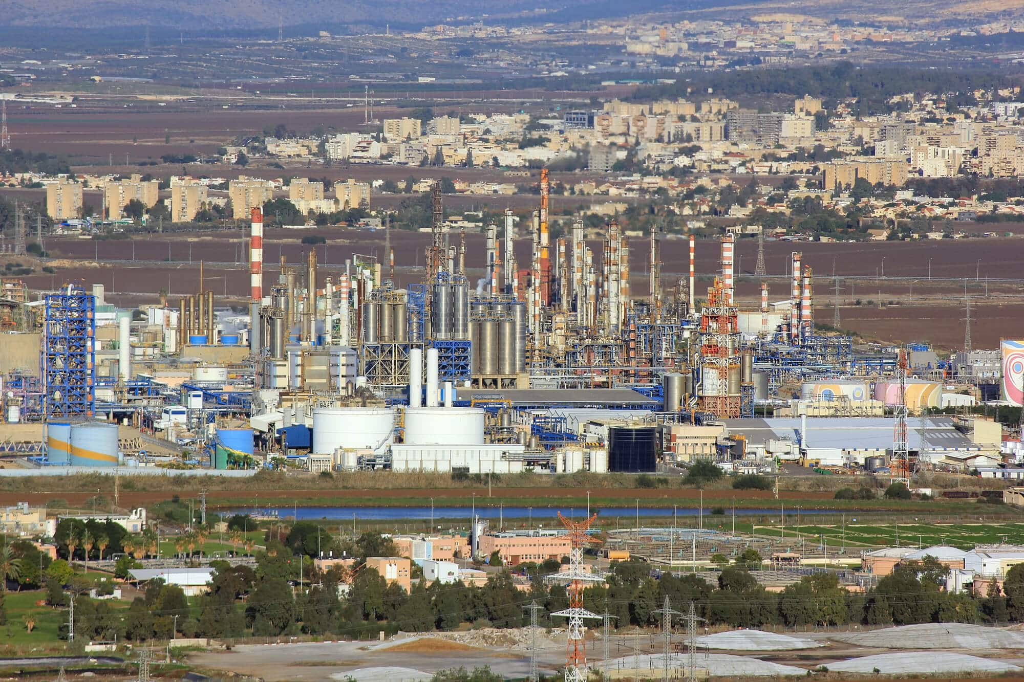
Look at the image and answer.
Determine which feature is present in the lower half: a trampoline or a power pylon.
power pylon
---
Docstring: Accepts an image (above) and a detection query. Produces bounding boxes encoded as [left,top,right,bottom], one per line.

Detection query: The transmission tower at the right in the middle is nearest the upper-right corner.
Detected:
[960,297,975,350]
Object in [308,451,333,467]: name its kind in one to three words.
building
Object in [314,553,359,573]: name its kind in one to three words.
building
